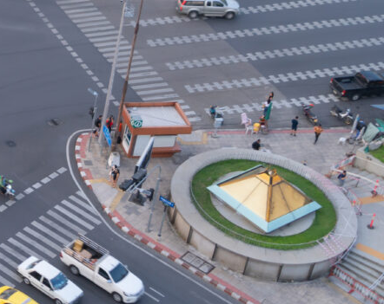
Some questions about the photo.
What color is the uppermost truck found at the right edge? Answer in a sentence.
The color of the uppermost truck found at the right edge is black.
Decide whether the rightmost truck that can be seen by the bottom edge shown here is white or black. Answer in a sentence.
The rightmost truck that can be seen by the bottom edge looks white in the image.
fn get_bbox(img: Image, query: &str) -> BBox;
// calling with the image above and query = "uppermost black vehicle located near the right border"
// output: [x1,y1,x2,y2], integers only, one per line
[330,66,384,99]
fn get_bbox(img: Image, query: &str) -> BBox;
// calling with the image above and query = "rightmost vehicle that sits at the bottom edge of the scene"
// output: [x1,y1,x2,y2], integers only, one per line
[62,232,145,301]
